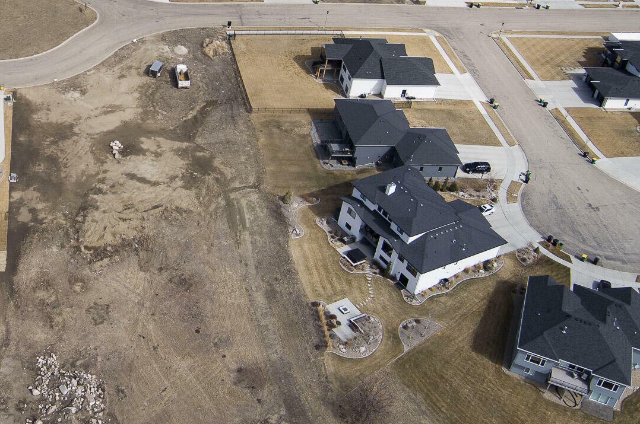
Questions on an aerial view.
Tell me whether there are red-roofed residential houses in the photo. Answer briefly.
No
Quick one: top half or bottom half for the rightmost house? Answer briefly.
top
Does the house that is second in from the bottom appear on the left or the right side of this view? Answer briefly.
right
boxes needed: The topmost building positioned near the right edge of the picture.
[578,31,640,109]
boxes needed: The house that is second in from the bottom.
[336,166,508,299]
